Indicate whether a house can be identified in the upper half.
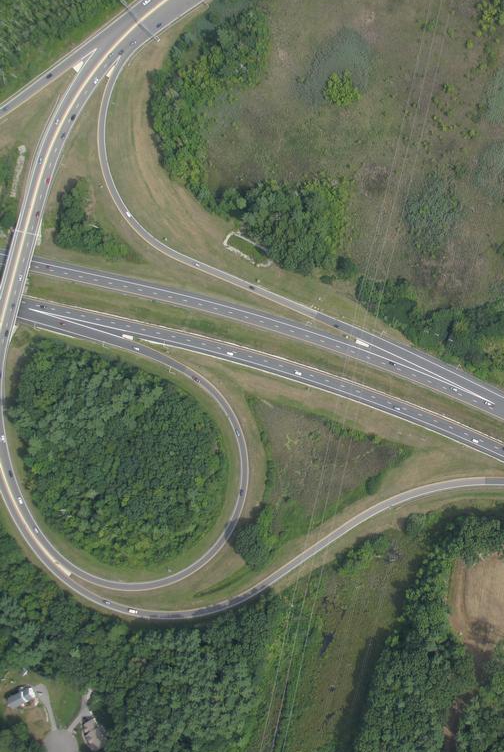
No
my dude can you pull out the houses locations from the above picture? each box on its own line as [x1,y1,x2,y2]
[5,686,41,709]
[79,717,101,751]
